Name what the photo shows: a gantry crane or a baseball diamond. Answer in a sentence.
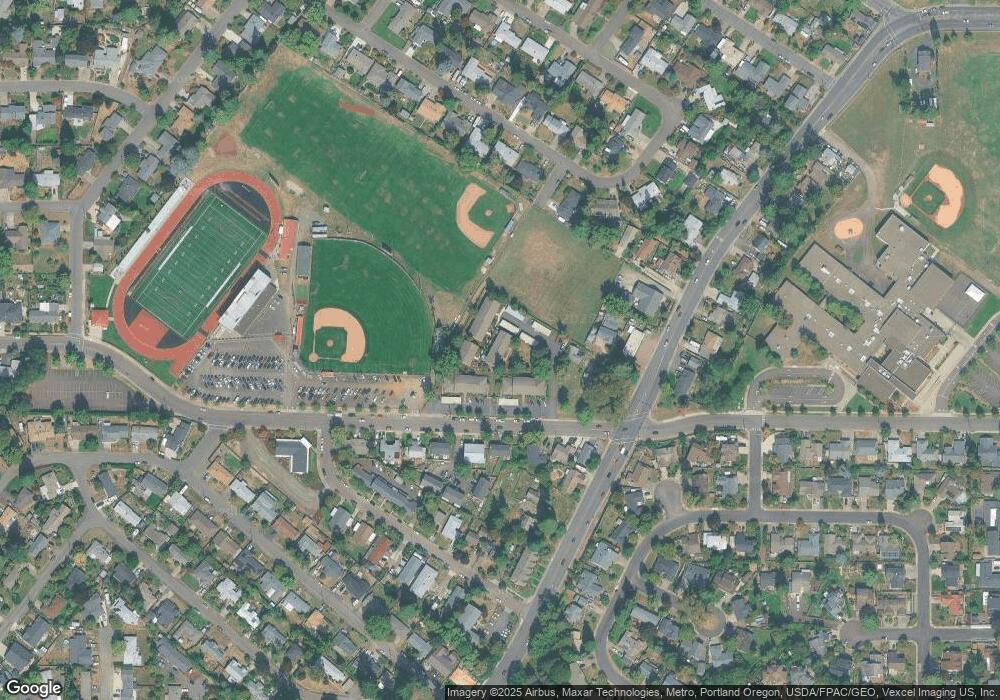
Visible in the photo is a baseball diamond.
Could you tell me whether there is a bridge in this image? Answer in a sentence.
No, the photo shows no bridge.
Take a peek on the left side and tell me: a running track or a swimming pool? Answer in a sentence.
What appears on the left side is a running track.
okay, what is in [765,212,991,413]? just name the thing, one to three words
building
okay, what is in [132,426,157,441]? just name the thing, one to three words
house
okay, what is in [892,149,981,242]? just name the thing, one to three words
baseball field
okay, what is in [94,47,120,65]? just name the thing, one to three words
house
